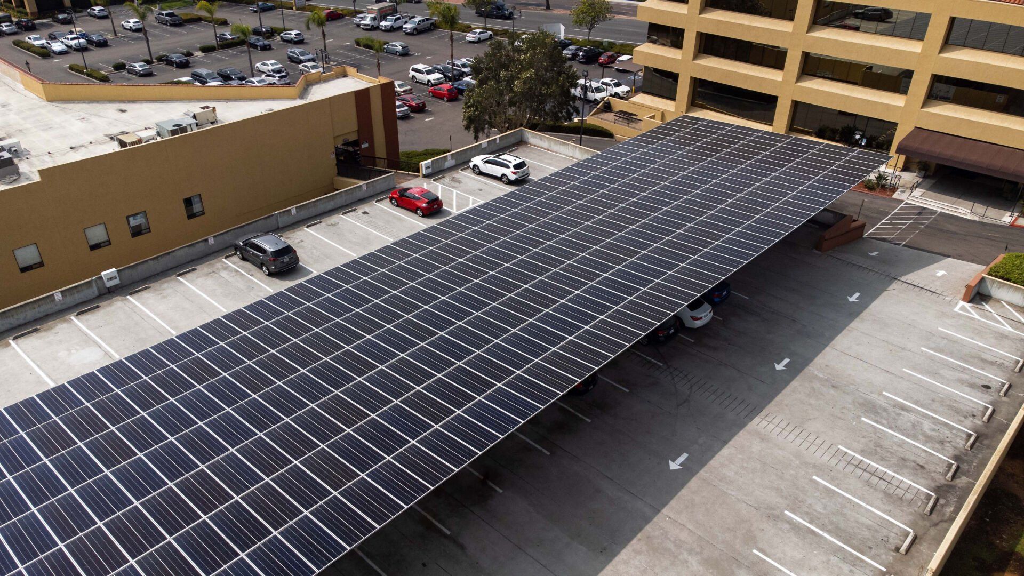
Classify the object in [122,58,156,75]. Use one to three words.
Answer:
car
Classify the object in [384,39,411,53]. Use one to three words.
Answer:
car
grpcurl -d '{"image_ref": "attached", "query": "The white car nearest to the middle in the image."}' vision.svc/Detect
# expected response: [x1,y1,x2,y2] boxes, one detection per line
[467,152,530,184]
